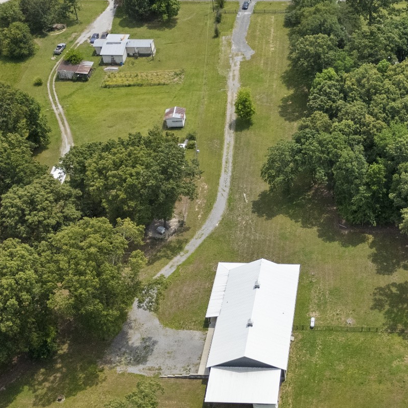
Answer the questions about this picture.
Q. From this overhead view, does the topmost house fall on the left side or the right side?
left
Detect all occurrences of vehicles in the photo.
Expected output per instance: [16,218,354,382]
[242,0,250,8]
[50,42,71,54]
[92,29,105,38]
[101,28,115,37]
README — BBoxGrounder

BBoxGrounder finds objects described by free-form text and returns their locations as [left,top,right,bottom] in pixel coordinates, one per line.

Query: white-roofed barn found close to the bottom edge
[204,258,300,408]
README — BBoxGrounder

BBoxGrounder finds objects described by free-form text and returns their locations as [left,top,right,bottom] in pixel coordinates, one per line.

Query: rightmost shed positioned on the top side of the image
[165,108,189,127]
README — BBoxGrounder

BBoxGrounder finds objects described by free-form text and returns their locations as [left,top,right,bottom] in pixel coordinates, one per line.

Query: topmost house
[88,36,157,65]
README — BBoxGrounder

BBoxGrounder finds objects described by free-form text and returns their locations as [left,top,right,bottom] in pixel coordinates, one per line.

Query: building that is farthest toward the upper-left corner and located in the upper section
[55,55,99,79]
